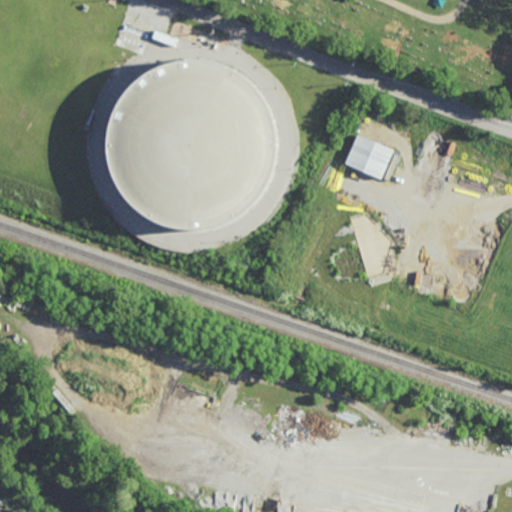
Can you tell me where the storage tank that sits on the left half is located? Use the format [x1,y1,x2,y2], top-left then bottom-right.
[106,60,276,230]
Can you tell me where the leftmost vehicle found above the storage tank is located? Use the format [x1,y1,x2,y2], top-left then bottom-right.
[120,21,145,36]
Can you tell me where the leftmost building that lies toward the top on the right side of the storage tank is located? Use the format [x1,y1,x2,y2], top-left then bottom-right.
[346,135,398,180]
